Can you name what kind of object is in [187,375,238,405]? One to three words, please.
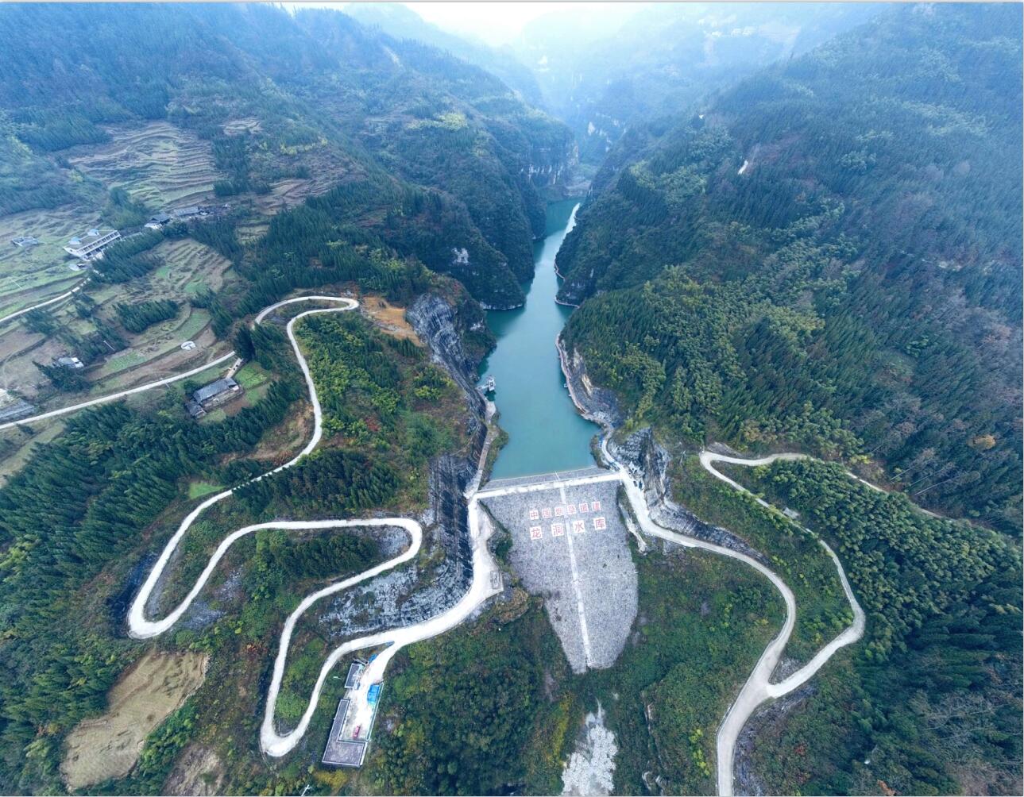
house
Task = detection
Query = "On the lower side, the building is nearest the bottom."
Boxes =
[320,694,368,767]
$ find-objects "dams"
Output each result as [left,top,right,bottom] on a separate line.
[472,468,638,674]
